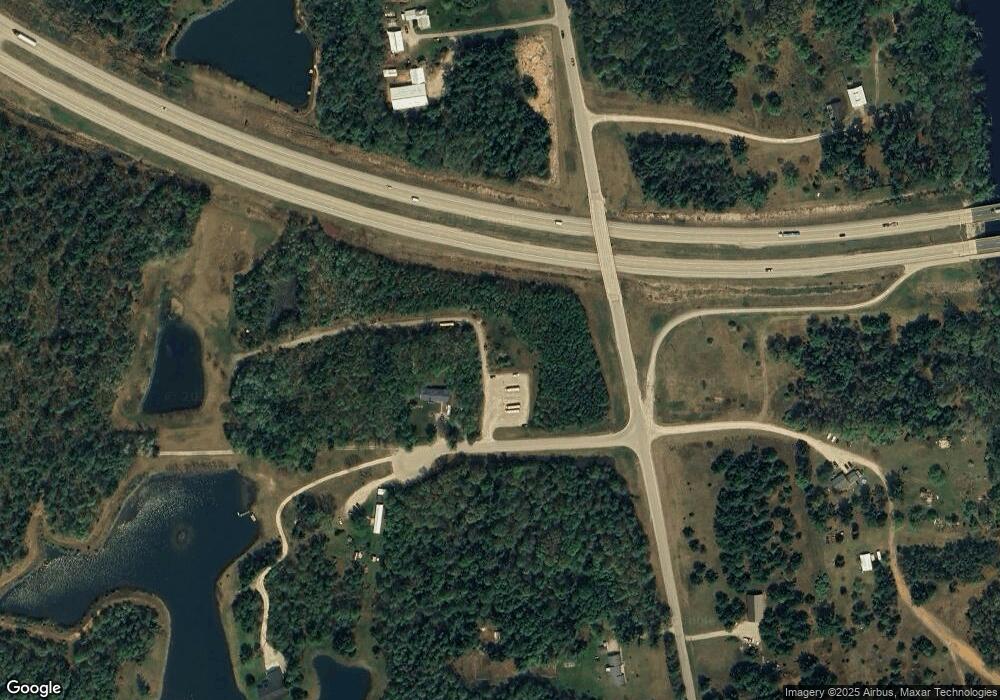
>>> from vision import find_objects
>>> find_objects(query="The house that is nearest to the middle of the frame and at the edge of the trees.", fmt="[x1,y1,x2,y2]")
[421,388,449,401]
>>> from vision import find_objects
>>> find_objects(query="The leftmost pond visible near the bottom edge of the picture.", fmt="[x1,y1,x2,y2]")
[0,470,257,700]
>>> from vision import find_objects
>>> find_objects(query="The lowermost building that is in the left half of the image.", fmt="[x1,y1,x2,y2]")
[257,667,292,700]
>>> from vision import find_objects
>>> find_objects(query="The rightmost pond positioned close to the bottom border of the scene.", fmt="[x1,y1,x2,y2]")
[314,656,370,700]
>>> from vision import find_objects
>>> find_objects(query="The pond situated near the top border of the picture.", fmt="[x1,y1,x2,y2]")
[174,0,312,108]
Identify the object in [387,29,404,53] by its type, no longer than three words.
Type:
barn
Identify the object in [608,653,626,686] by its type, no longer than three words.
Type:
house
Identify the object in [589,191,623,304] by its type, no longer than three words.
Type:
overpass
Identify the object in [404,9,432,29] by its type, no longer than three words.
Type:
house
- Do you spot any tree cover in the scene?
Yes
